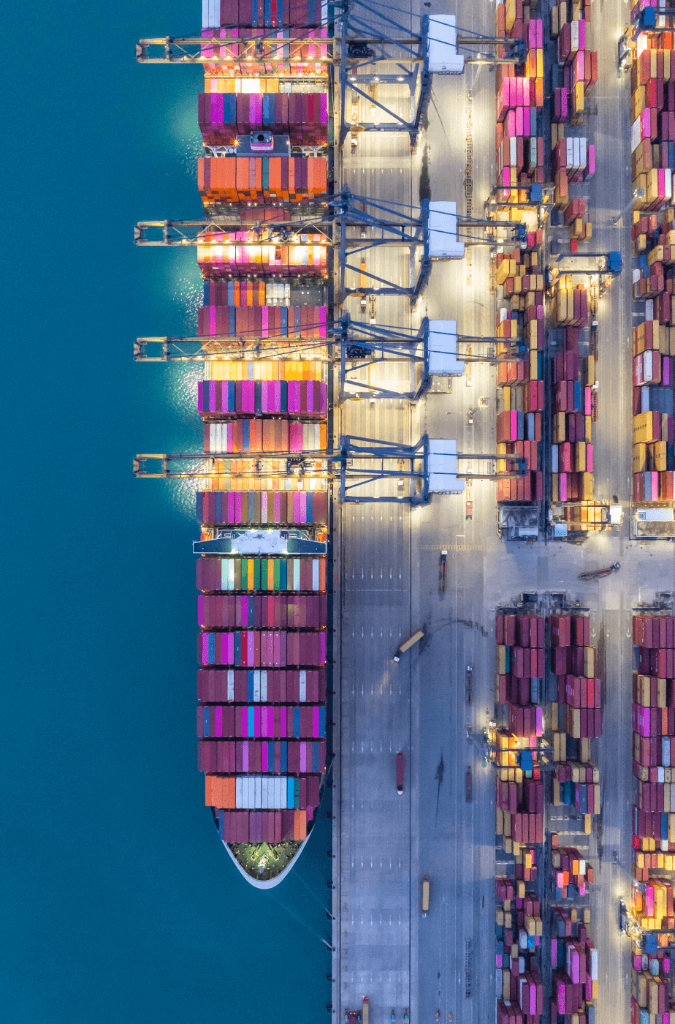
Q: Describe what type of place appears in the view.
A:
port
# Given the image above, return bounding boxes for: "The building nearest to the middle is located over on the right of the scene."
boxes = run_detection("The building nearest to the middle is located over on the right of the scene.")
[499,504,539,539]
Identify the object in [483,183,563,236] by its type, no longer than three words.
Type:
container crane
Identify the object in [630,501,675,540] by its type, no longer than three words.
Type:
building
